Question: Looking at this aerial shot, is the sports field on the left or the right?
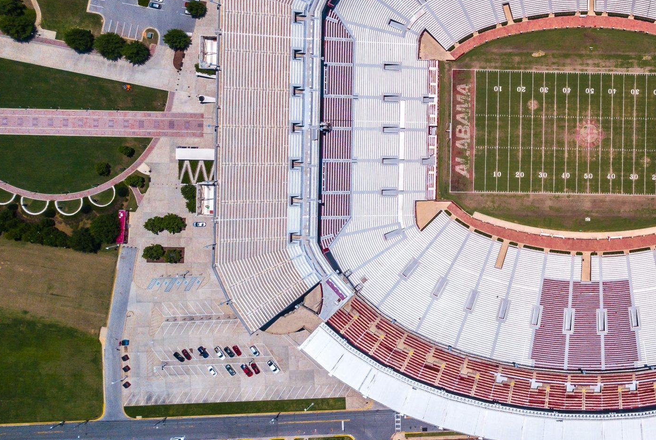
right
